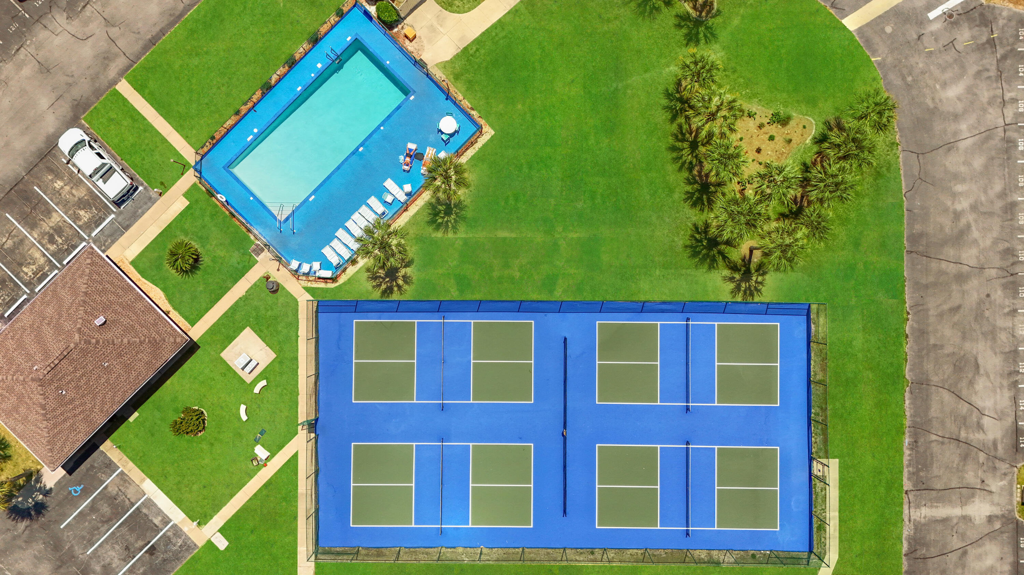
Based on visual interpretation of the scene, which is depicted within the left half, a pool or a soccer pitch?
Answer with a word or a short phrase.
pool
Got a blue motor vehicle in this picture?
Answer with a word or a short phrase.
No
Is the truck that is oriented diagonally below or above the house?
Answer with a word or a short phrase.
above it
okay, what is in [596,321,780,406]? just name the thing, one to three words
sports court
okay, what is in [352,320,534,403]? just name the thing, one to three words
sports court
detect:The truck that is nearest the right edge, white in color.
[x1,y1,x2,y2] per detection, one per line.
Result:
[60,127,136,202]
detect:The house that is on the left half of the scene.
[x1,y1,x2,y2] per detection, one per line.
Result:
[0,240,194,474]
